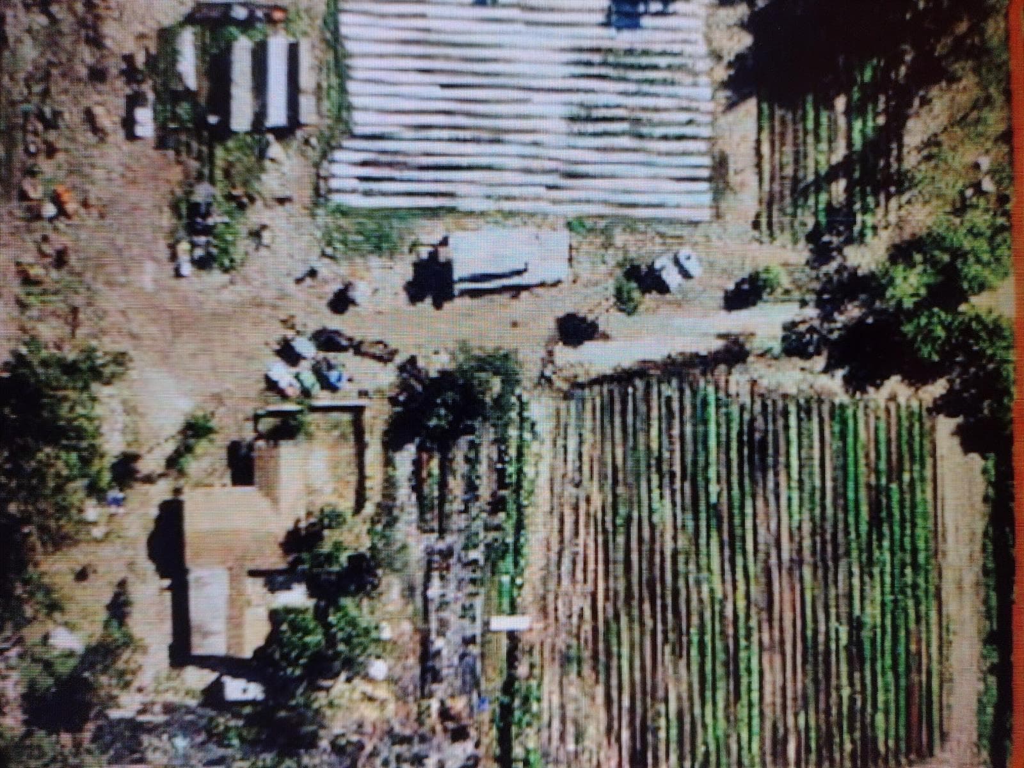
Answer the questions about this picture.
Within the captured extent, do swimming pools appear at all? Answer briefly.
No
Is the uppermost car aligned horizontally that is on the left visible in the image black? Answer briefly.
Yes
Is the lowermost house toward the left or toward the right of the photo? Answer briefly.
left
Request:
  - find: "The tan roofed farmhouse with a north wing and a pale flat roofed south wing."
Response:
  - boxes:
[182,442,306,658]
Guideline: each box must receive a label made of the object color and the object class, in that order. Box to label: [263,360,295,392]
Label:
white car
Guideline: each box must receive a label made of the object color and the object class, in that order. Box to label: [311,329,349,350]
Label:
black car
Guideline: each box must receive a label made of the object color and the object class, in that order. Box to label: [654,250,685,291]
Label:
white car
